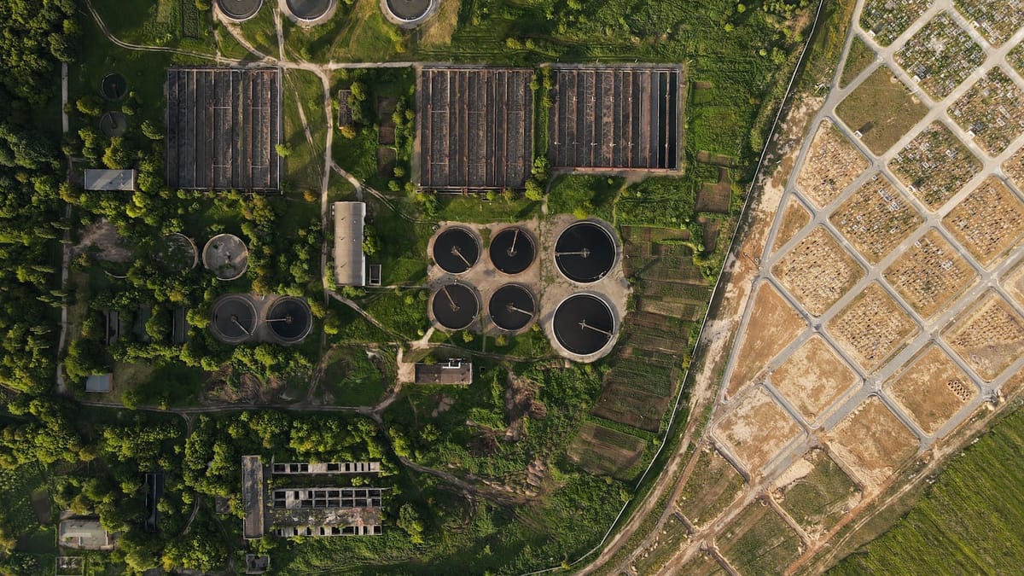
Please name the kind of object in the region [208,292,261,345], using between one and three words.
storage tank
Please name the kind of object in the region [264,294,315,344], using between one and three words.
storage tank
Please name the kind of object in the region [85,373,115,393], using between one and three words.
shed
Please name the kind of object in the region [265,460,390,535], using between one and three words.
building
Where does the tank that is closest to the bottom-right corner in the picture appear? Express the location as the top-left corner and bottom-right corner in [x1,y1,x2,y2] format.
[549,290,618,358]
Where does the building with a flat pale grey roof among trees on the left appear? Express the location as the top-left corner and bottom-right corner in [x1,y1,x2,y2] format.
[84,169,138,192]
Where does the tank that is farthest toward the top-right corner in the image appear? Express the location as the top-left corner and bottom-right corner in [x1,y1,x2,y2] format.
[551,218,619,287]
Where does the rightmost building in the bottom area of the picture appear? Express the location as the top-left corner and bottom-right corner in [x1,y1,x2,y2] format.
[415,358,472,384]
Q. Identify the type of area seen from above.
industrial area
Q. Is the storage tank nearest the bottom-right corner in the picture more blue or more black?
black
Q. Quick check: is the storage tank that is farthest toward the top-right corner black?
Yes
